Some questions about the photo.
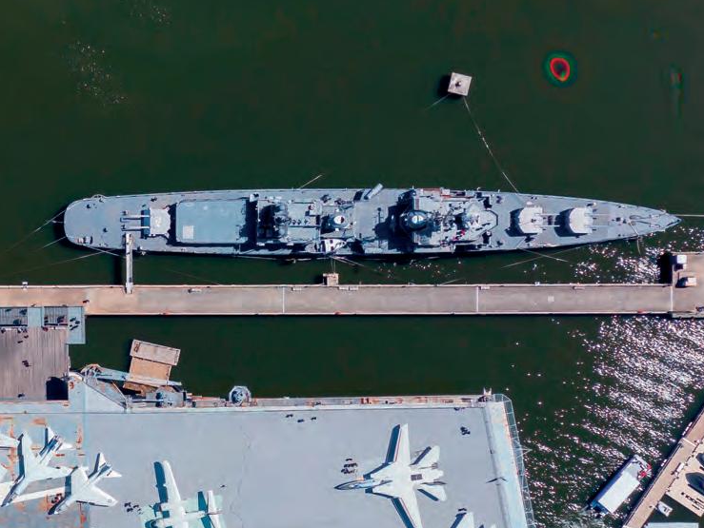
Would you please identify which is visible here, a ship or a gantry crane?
ship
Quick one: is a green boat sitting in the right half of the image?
No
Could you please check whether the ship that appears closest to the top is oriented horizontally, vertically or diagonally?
horizontally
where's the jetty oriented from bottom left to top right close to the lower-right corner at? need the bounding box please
[624,407,704,528]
